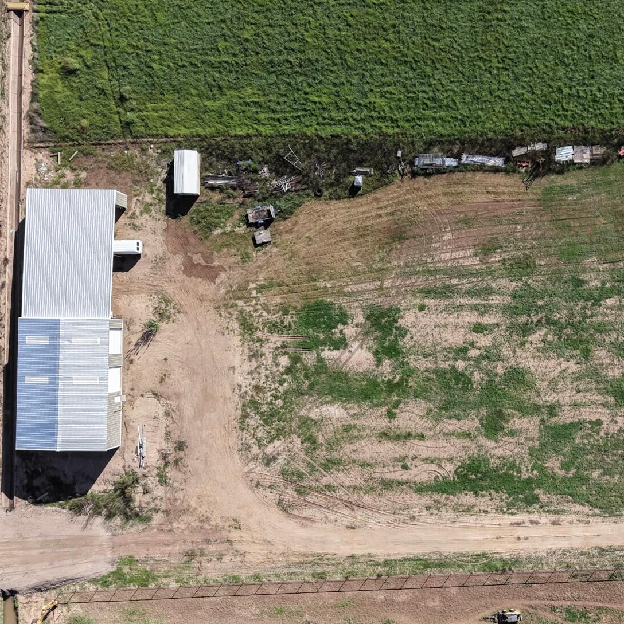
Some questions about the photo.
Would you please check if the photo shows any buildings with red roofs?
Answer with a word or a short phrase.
No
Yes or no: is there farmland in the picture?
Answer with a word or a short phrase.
Yes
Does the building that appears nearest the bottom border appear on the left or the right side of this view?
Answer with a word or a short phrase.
left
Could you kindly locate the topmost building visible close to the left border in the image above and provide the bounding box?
[21,188,126,318]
